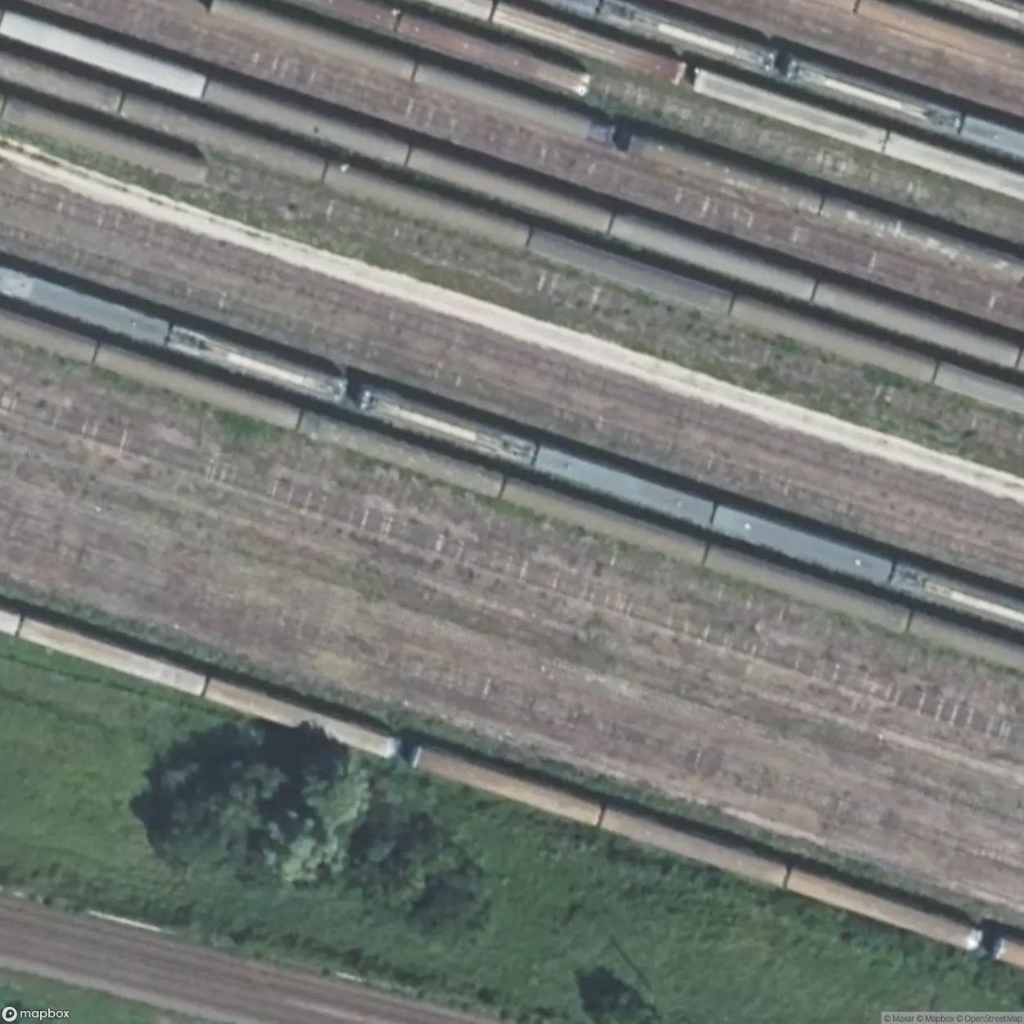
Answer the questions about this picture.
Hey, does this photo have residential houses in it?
No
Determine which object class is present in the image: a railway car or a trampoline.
railway car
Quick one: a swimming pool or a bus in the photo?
bus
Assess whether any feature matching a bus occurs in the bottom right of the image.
Yes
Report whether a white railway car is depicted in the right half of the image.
Yes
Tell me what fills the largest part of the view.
paved ground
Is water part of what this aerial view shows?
No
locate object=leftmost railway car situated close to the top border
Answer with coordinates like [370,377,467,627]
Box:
[529,0,600,20]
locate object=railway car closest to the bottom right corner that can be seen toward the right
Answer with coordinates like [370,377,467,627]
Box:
[888,561,1024,630]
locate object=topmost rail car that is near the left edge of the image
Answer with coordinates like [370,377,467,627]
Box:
[0,267,170,348]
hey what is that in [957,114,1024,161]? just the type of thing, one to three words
rail car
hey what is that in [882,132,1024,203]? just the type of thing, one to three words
rail car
